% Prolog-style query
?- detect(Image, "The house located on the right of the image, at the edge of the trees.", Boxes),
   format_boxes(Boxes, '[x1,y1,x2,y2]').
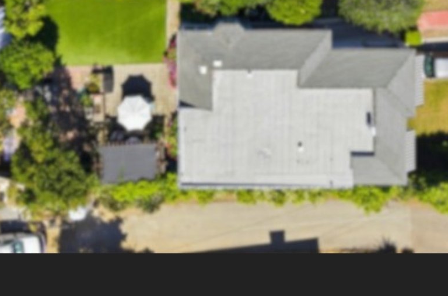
[178,20,423,190]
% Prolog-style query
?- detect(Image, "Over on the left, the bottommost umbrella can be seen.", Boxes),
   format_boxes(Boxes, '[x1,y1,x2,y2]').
[118,96,152,129]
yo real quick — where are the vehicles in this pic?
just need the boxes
[416,52,448,84]
[0,216,42,254]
